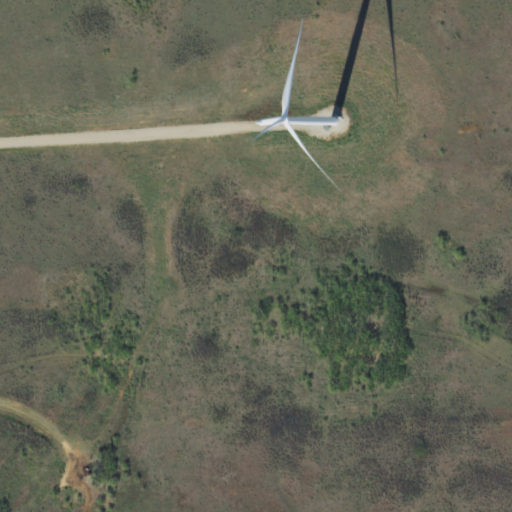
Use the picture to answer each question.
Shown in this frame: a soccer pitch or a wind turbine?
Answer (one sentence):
I can see a wind turbine in this picture.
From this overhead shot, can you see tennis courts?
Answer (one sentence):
No, the picture doesn't show any tennis court.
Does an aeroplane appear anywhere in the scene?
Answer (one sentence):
No, the scene contains no aeroplane.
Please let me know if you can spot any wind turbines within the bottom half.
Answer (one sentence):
No, I see no wind turbine within the bottom half.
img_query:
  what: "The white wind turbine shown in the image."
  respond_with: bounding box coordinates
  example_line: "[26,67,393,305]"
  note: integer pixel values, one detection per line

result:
[252,18,345,191]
